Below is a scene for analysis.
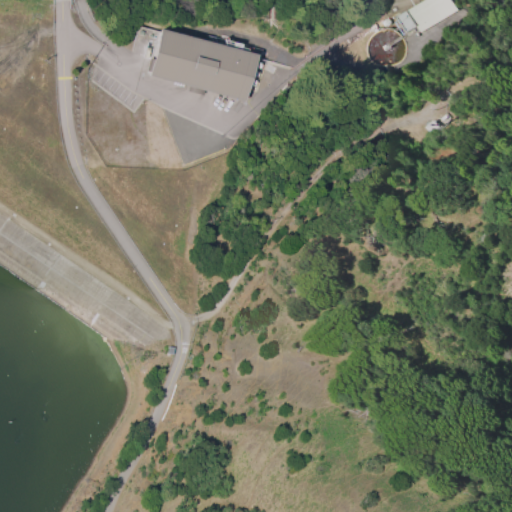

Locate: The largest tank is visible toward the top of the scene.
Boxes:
[368,27,407,66]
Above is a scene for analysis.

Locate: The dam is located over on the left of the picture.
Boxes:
[0,202,177,346]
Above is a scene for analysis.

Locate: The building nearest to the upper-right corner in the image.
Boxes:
[408,0,458,32]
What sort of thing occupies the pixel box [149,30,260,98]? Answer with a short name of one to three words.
building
